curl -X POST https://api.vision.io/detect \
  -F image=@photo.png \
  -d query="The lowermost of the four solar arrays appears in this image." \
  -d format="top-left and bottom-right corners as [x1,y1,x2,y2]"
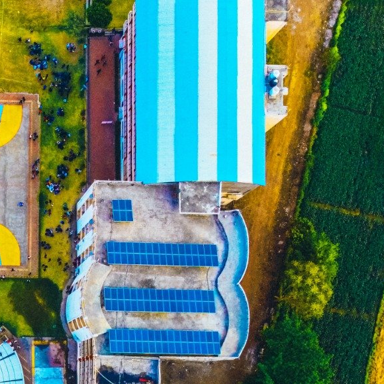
[109,328,220,354]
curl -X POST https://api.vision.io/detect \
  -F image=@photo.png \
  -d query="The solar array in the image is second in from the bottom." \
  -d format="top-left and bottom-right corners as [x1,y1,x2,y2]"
[104,288,215,313]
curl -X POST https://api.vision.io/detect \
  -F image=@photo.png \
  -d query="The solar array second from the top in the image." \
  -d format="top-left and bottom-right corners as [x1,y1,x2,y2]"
[107,241,218,266]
